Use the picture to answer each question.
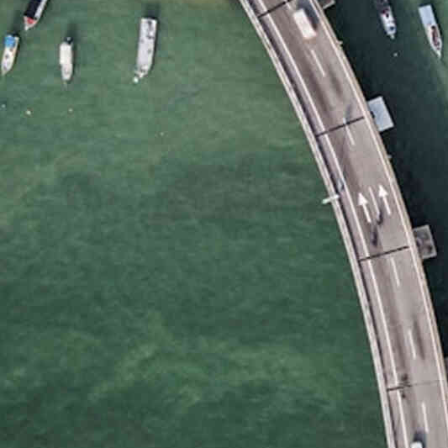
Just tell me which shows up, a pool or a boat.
boat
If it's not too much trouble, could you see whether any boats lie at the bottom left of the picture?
No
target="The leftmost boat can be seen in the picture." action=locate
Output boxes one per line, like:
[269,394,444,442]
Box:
[0,32,20,85]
